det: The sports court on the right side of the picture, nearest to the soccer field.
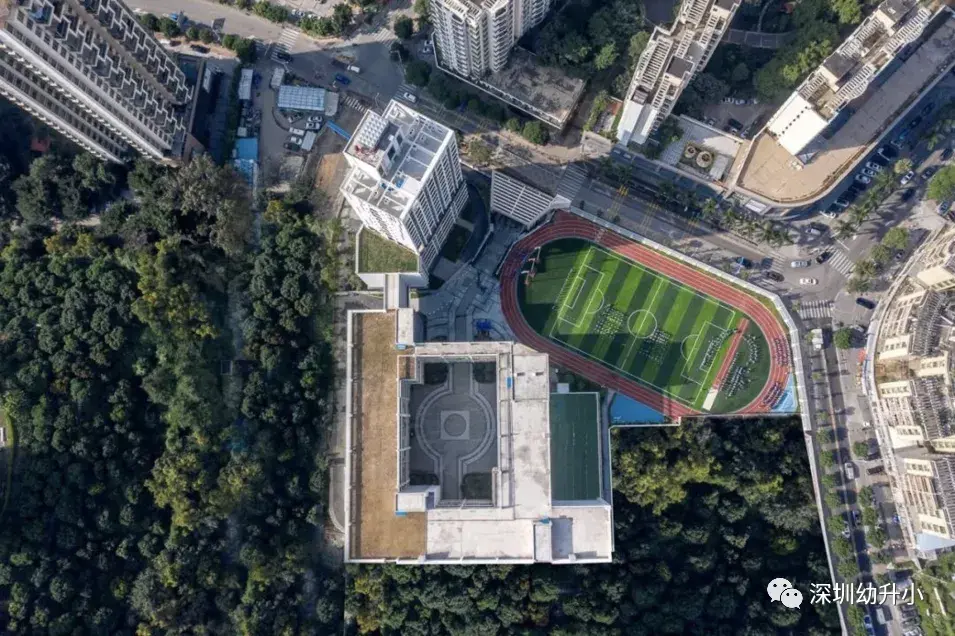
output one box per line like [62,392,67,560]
[549,390,604,498]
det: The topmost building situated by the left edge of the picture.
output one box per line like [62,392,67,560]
[0,0,201,177]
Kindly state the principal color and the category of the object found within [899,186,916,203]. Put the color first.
black car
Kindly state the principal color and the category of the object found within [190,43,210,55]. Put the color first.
black vehicle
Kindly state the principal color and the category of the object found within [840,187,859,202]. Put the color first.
black car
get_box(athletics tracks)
[500,213,788,431]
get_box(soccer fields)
[516,236,769,412]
